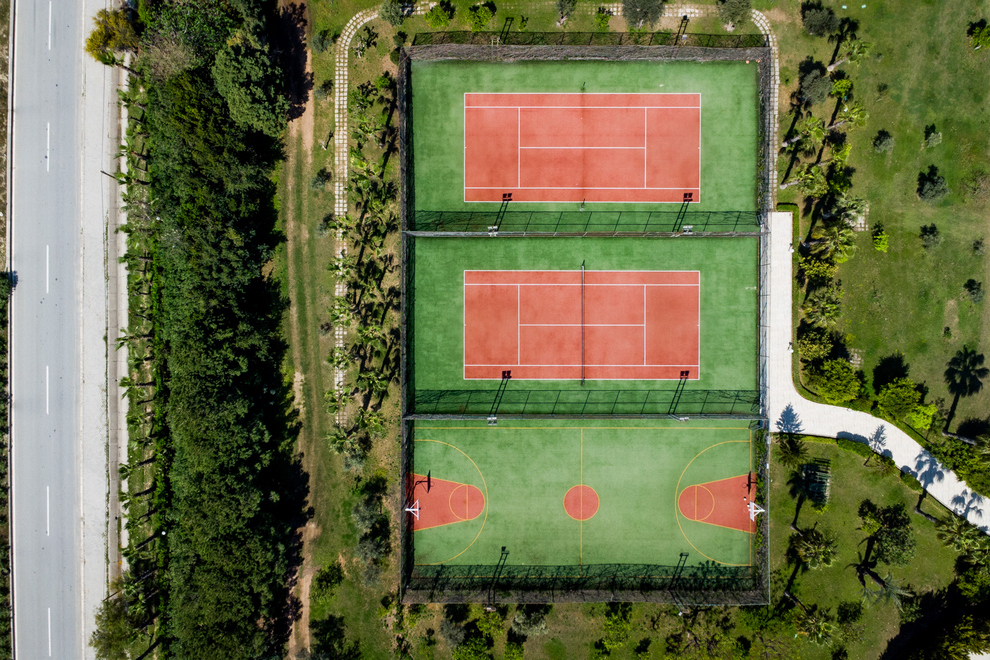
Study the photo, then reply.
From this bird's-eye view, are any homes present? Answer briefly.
No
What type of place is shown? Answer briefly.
sports ground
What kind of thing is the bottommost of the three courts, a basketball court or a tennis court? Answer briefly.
basketball court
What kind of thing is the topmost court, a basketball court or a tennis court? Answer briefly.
tennis court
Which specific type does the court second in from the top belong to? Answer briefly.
tennis court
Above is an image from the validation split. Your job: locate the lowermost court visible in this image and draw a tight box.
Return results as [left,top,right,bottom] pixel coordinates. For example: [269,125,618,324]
[405,414,758,590]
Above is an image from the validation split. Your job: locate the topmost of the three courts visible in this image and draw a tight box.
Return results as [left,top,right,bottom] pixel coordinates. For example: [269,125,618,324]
[405,60,758,236]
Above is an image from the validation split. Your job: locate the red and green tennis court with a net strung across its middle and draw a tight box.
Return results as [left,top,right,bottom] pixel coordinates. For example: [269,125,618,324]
[405,236,758,414]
